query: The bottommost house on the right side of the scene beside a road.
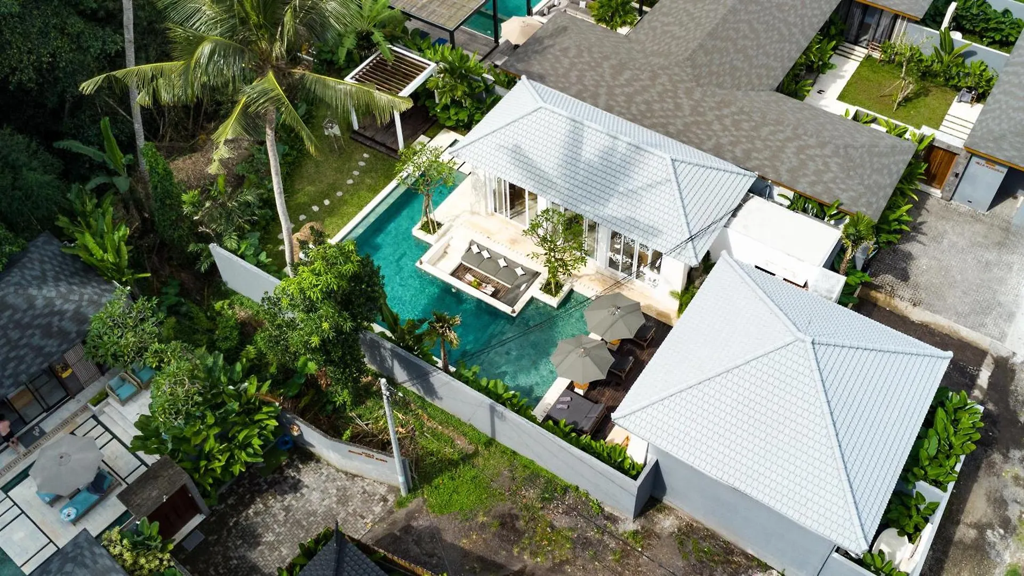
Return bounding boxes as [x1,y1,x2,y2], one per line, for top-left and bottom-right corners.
[608,249,960,576]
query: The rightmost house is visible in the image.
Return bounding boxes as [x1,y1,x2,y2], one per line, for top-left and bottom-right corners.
[963,30,1024,177]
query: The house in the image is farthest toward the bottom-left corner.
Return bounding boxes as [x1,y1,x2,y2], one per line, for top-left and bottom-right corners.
[28,526,130,576]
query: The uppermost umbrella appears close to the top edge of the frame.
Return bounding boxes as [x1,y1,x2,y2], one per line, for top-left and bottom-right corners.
[501,19,540,47]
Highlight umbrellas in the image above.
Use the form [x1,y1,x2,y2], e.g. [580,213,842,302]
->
[501,19,540,47]
[26,431,107,498]
[581,290,647,343]
[549,331,614,387]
